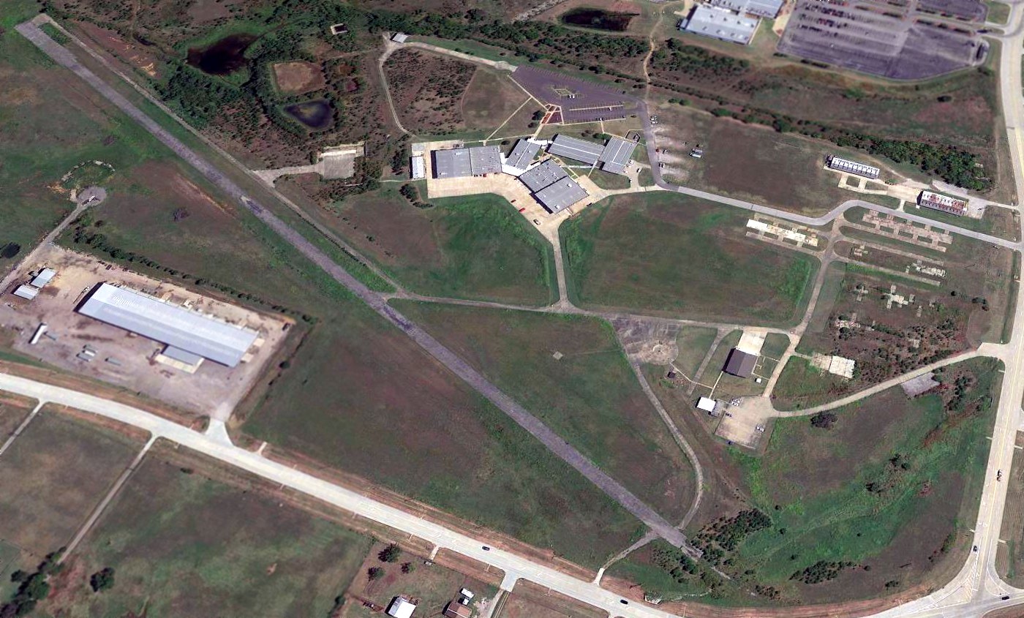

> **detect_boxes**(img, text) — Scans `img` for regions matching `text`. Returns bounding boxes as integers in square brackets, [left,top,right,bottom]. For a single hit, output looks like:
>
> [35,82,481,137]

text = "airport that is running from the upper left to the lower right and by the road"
[15,13,792,569]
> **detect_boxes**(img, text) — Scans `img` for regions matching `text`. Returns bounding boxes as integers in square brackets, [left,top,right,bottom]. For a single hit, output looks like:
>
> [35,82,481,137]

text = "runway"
[15,22,686,547]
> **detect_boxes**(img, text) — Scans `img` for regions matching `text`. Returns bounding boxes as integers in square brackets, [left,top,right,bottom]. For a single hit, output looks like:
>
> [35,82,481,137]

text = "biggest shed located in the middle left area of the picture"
[79,282,258,370]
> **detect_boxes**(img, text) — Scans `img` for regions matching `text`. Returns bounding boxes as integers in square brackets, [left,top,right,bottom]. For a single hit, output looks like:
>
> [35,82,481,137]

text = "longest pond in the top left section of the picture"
[187,34,257,76]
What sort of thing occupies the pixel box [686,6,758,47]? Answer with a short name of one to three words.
building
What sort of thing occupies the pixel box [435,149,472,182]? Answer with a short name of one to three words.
hangar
